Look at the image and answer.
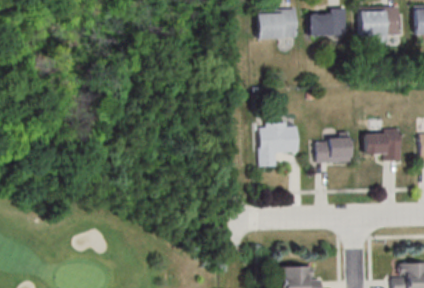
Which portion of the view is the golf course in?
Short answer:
bottom left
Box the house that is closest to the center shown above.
[258,122,300,167]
